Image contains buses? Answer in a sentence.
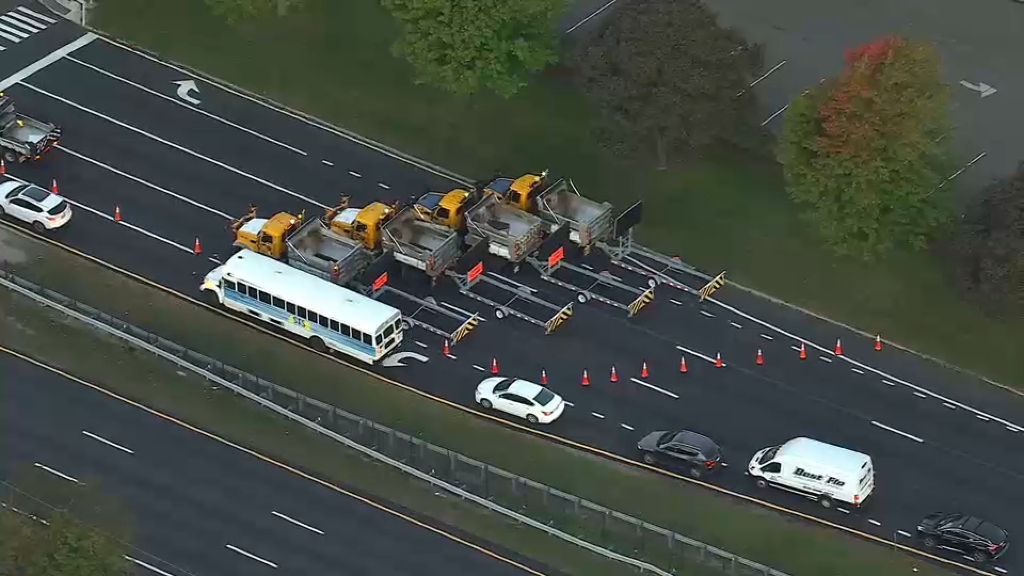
Yes, a bus can be made out from above.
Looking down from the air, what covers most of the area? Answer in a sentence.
For the most part, this view shows paved ground.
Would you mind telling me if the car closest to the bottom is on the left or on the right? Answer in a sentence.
The car closest to the bottom sits on the right side.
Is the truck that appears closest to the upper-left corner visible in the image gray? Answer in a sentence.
Yes, the truck that appears closest to the upper-left corner is gray.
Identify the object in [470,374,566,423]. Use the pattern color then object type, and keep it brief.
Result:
white car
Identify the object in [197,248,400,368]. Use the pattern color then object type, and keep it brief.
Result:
white bus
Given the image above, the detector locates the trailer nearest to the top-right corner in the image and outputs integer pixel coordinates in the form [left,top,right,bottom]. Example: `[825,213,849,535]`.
[599,200,723,306]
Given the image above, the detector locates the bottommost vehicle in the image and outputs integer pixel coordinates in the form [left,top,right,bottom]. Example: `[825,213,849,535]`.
[914,509,1012,562]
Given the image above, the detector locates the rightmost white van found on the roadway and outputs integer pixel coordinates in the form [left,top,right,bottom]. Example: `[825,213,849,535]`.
[743,432,872,509]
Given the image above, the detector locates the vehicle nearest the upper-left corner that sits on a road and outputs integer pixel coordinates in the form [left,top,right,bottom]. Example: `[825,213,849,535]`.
[0,103,59,163]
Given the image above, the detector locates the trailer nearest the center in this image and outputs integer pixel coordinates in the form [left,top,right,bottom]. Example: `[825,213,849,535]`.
[447,231,571,338]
